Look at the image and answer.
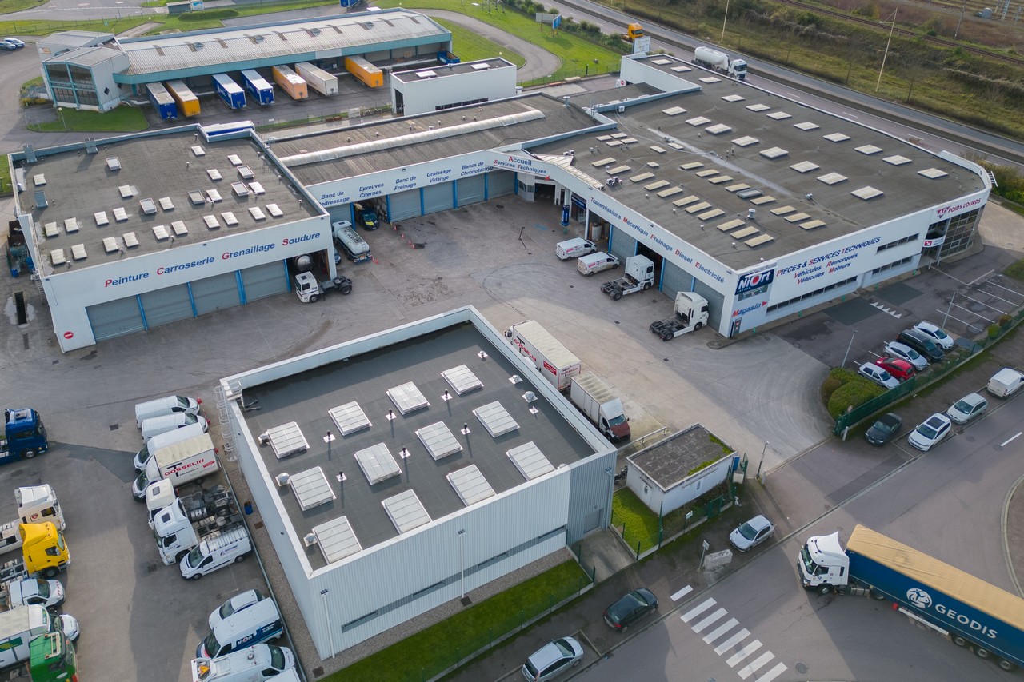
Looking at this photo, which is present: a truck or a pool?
truck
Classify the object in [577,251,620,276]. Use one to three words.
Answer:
vehicle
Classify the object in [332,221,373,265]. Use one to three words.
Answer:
truck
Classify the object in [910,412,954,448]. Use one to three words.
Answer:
car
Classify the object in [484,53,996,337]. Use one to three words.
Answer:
building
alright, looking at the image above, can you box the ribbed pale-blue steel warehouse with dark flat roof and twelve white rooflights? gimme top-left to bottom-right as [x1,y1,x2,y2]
[208,305,618,659]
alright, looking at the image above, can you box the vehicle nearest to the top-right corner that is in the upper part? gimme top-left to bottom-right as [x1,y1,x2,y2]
[693,42,754,78]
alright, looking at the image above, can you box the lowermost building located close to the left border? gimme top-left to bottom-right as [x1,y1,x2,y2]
[7,122,337,351]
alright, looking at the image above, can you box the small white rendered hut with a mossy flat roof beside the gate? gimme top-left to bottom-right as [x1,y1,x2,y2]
[624,425,738,517]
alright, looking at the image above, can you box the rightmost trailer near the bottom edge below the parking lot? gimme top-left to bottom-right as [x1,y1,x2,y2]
[846,525,1024,671]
